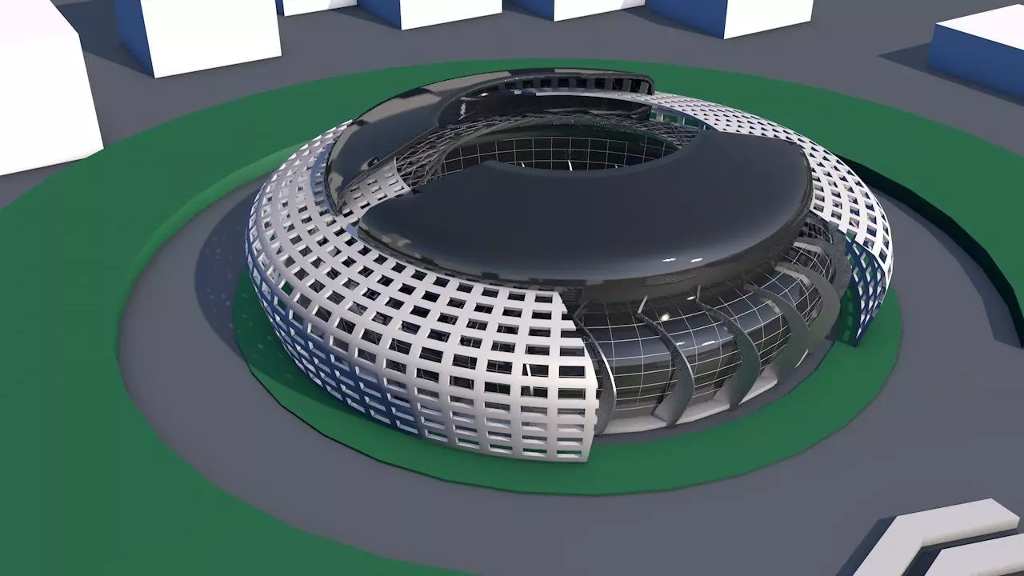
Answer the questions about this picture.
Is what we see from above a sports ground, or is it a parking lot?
sports ground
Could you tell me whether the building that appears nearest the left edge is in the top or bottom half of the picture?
top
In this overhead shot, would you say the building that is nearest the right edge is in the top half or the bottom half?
top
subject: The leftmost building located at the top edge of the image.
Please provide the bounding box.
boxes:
[0,0,103,176]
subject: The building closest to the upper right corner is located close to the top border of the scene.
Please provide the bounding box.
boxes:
[928,5,1024,100]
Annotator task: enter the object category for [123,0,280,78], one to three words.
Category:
building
